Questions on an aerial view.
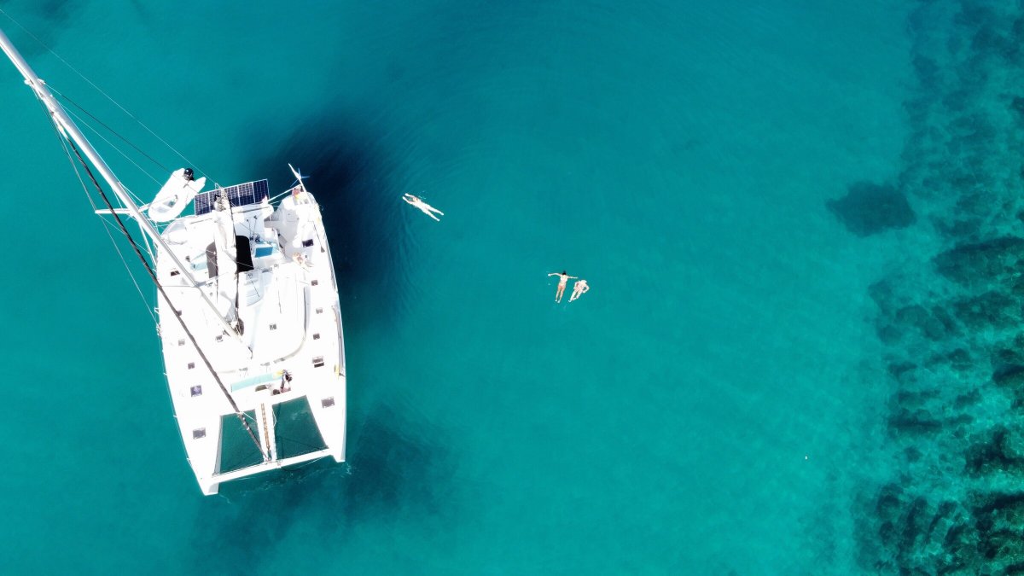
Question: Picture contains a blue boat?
No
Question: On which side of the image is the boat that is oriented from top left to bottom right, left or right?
left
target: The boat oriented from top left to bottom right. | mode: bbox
[0,3,346,498]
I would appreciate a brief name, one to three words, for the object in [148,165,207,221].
boat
